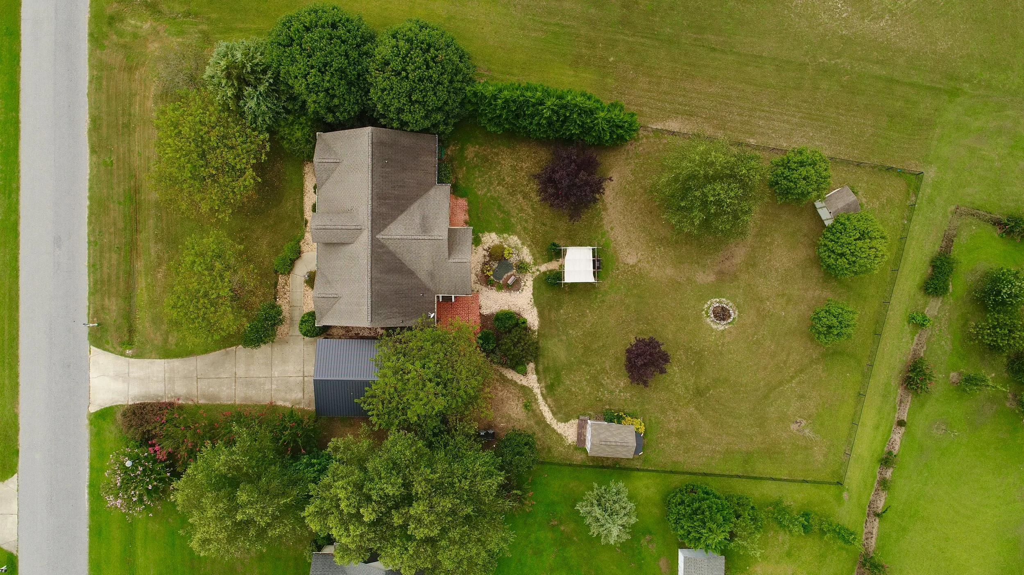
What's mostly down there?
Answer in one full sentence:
The scene is dominated by grass.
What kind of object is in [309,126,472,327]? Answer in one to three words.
house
